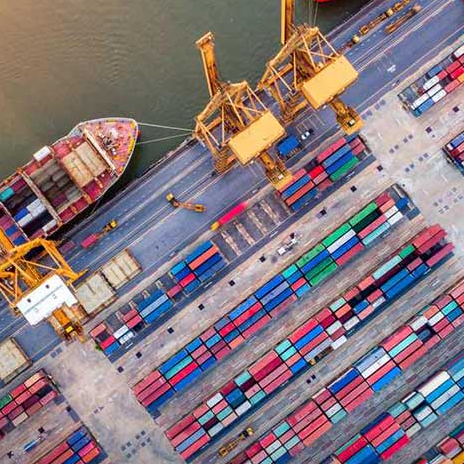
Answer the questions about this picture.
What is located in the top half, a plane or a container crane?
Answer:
container crane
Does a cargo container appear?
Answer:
Yes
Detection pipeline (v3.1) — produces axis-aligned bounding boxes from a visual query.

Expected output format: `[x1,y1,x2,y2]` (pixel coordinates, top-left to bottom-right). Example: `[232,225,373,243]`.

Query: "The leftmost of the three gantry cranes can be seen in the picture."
[0,224,94,346]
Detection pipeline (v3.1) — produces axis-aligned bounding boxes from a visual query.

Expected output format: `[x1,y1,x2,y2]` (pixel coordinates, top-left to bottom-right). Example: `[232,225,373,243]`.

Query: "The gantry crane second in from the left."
[189,27,293,186]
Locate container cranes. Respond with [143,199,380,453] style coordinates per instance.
[0,224,94,346]
[189,27,293,186]
[249,0,364,131]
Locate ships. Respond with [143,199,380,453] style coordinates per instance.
[0,117,141,277]
[309,0,337,8]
